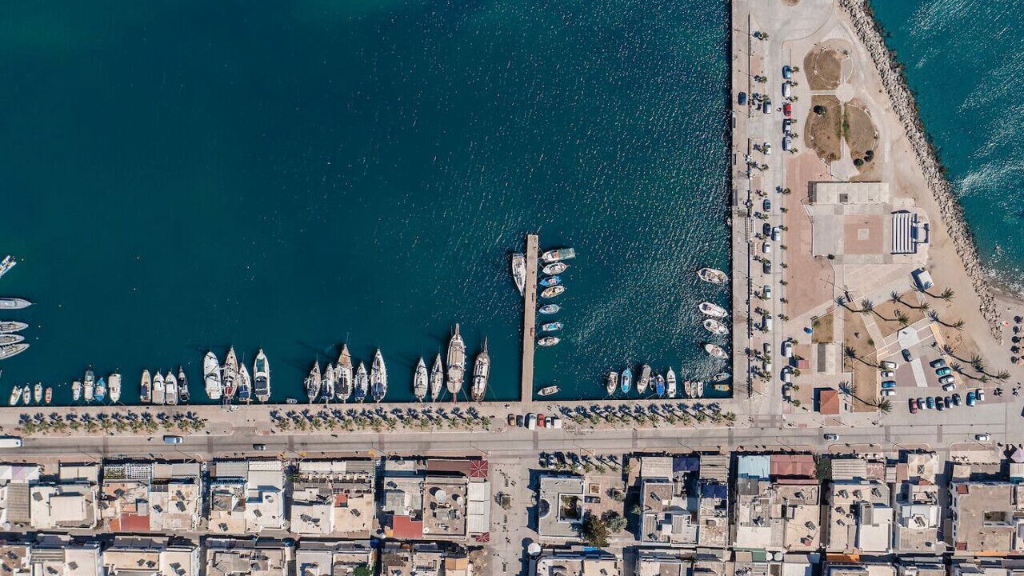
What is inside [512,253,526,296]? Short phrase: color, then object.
white boat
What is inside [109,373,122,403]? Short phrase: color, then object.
white boat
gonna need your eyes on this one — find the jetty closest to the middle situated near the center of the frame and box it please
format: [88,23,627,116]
[521,234,539,402]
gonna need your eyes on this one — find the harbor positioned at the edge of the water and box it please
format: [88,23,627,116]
[0,0,749,413]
